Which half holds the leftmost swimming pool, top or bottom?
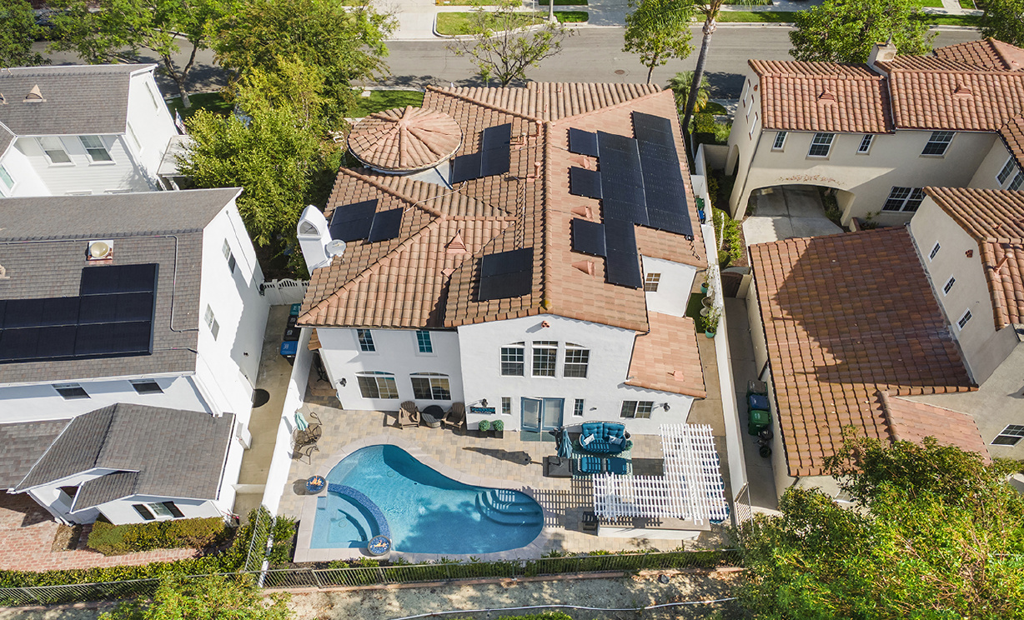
bottom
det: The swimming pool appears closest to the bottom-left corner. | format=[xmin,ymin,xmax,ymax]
[310,443,543,552]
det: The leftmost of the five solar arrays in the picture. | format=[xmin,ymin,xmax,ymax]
[0,263,161,371]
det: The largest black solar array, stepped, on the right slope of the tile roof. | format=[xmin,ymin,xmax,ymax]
[571,109,695,290]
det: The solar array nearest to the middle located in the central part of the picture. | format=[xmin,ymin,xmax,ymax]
[476,245,532,304]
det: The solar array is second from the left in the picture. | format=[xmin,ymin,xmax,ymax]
[329,194,406,242]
